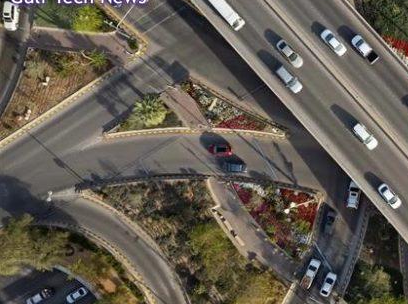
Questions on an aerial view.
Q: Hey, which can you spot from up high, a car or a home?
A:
car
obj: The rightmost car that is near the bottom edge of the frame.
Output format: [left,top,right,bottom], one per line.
[320,270,338,298]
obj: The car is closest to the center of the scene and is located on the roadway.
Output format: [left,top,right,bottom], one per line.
[208,144,233,156]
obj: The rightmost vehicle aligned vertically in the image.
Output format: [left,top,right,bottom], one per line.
[346,180,359,210]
